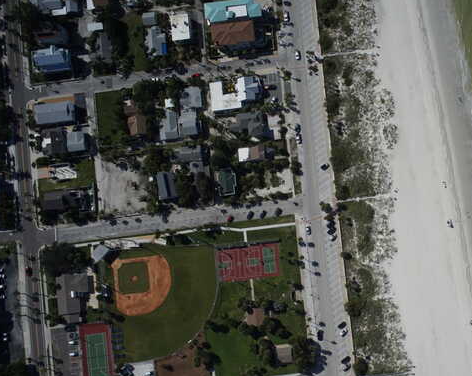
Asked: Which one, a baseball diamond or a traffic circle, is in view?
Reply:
baseball diamond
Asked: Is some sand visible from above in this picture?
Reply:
Yes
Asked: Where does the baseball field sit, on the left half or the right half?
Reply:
left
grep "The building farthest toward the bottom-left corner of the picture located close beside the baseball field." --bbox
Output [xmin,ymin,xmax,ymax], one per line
[55,274,89,322]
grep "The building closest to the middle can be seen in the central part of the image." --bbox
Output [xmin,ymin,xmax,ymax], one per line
[215,168,238,197]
